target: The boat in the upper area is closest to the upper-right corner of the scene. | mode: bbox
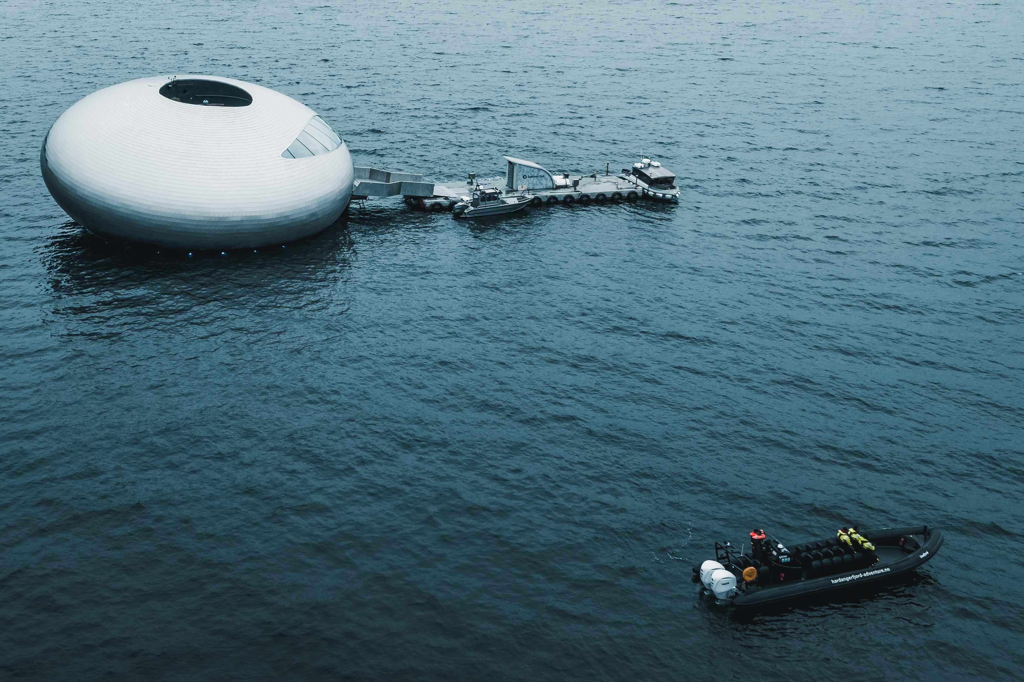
[618,155,681,198]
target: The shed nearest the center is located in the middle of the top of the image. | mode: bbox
[503,153,556,189]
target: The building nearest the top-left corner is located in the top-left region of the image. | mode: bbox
[41,76,354,254]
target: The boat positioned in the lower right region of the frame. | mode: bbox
[697,526,940,605]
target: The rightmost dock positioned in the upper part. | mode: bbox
[416,174,642,213]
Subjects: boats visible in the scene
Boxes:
[618,155,681,198]
[697,526,940,605]
[452,177,535,218]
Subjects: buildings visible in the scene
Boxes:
[503,153,556,189]
[41,76,354,254]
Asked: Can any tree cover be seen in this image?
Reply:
No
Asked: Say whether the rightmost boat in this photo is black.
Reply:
Yes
